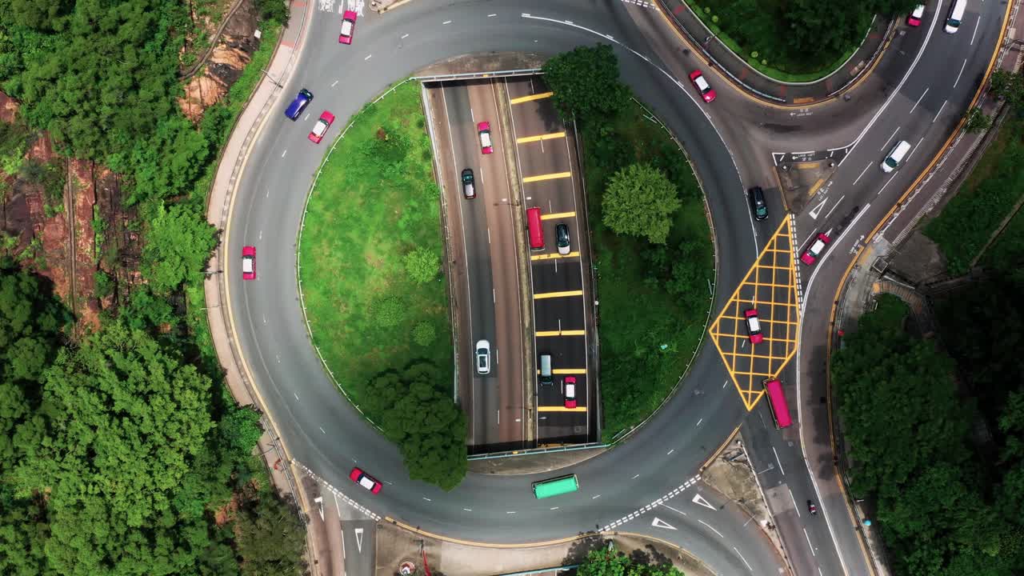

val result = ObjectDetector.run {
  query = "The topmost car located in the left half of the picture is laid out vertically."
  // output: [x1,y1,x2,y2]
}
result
[338,10,358,46]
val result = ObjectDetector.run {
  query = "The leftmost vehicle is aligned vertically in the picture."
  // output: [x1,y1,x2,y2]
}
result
[241,245,258,280]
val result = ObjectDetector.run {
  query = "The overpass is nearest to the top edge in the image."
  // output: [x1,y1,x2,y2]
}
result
[411,63,556,87]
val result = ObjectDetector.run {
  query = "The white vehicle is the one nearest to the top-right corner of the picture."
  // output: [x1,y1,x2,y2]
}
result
[943,0,969,32]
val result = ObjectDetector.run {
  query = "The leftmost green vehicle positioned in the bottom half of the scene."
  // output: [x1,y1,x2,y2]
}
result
[531,472,580,500]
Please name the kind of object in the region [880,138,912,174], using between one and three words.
van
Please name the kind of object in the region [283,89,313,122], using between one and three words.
van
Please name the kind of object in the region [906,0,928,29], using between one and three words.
car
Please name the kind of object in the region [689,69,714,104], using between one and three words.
car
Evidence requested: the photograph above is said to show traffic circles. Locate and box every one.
[226,0,888,545]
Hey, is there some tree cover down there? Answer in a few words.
Yes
